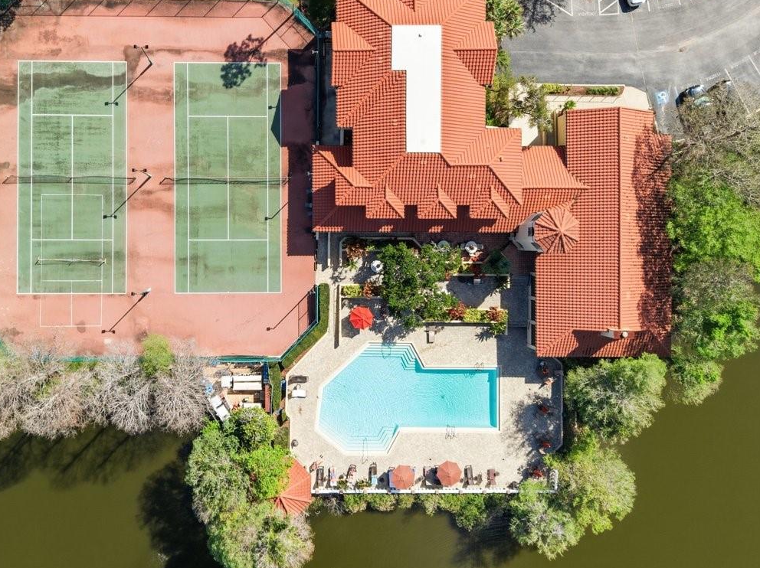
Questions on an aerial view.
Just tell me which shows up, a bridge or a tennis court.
tennis court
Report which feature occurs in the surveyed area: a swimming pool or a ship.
swimming pool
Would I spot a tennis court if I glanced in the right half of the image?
No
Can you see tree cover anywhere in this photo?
Yes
